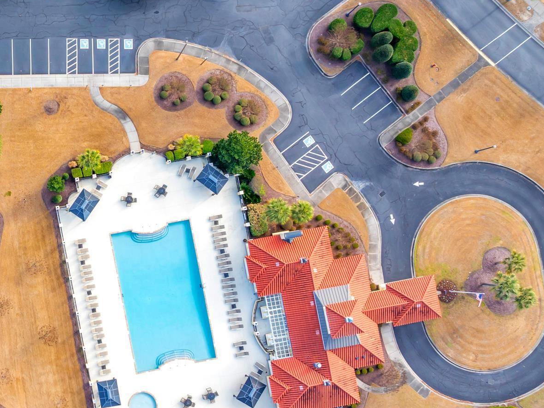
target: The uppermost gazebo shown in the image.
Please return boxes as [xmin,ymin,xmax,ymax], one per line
[192,163,228,196]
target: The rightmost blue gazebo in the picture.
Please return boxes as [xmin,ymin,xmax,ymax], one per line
[231,373,267,408]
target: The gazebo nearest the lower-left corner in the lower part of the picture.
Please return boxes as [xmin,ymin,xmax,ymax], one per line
[95,376,121,408]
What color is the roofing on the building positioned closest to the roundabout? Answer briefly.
red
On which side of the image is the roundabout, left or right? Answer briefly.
right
